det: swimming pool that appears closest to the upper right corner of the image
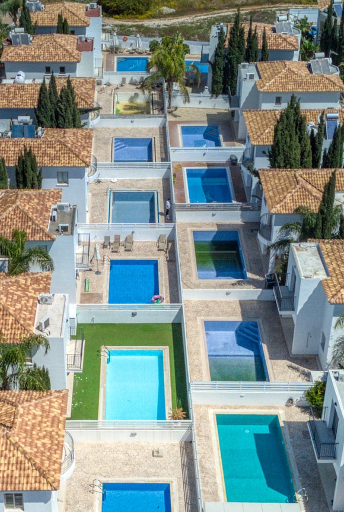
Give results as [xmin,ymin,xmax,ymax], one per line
[171,59,208,84]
